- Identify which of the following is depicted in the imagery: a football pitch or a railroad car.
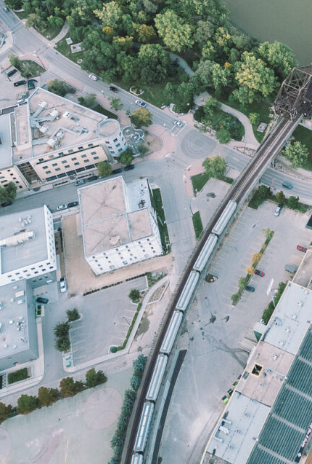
railroad car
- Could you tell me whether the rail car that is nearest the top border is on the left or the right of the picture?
right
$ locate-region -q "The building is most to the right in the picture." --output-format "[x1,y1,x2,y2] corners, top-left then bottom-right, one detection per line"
[77,175,161,274]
